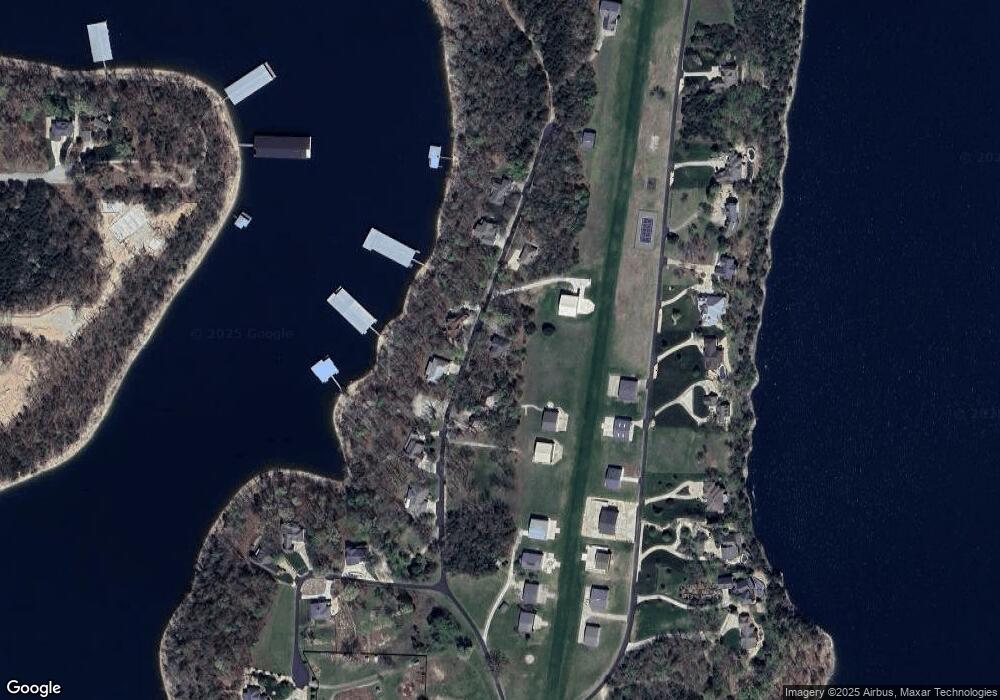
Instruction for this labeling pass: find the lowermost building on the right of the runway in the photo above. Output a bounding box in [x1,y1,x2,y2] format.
[738,615,756,651]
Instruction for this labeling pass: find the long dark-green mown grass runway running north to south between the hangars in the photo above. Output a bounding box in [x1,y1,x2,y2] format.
[545,0,657,700]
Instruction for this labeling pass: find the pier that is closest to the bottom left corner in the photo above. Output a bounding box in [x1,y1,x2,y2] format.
[312,354,344,392]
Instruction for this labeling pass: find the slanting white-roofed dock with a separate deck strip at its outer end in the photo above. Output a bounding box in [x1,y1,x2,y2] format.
[221,62,277,105]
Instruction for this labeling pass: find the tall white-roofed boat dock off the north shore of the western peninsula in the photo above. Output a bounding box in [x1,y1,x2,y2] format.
[88,21,114,73]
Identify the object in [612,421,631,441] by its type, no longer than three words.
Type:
hangar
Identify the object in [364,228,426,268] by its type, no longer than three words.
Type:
pier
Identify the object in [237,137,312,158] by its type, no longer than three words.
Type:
pier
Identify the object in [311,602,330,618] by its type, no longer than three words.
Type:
house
